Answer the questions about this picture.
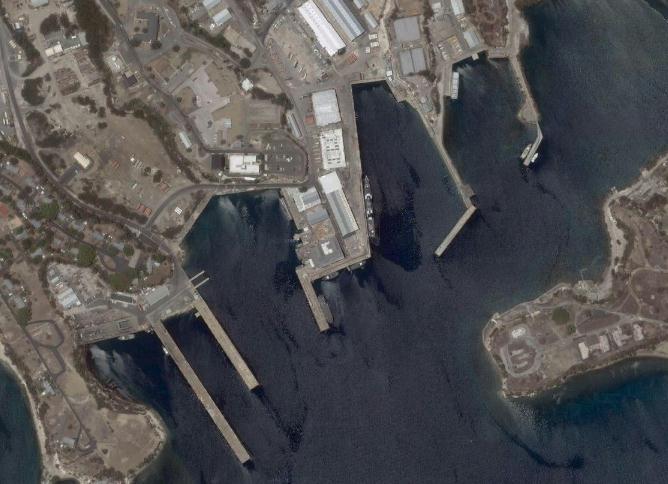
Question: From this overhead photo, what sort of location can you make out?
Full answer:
The area seen from above is a port.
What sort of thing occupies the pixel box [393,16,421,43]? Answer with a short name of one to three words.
building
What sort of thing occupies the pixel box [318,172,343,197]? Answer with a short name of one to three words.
hangar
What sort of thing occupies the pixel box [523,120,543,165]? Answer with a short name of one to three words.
pier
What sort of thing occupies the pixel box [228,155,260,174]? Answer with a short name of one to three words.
building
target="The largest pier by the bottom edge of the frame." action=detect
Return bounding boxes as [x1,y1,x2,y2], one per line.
[153,321,250,464]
